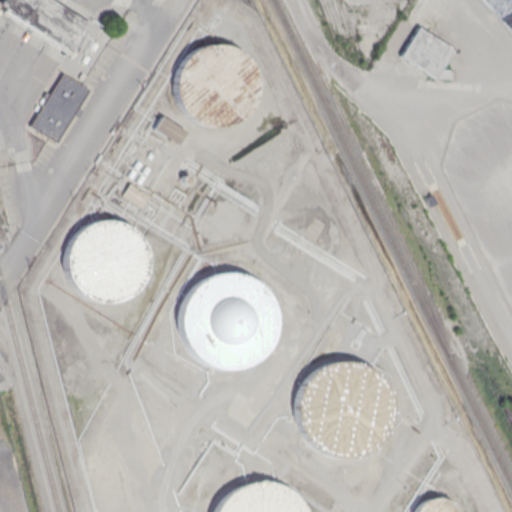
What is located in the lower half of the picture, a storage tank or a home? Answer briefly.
storage tank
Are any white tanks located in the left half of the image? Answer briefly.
Yes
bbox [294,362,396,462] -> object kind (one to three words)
storage tank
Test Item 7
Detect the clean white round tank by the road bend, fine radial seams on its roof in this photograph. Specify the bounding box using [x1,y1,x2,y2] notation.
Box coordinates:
[61,220,153,310]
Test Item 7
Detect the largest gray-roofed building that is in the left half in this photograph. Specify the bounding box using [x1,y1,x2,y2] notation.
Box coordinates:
[28,72,92,146]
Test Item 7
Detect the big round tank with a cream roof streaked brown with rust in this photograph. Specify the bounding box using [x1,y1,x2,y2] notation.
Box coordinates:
[172,45,262,132]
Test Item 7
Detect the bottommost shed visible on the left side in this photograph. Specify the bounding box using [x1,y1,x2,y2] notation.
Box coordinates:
[122,184,151,208]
